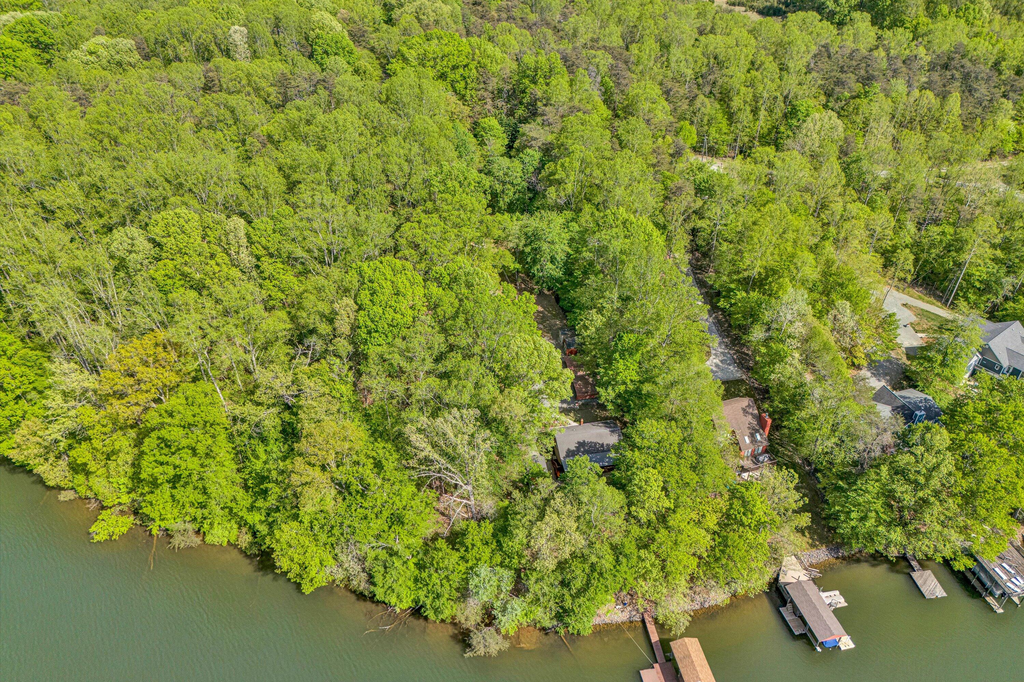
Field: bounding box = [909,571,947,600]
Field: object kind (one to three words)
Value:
pier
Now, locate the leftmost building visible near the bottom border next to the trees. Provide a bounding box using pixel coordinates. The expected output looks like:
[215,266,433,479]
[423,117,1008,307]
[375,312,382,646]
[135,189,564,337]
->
[669,636,715,682]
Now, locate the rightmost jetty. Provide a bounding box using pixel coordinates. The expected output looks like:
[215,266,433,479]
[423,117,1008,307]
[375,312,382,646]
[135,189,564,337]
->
[958,532,1024,622]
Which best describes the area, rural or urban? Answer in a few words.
rural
